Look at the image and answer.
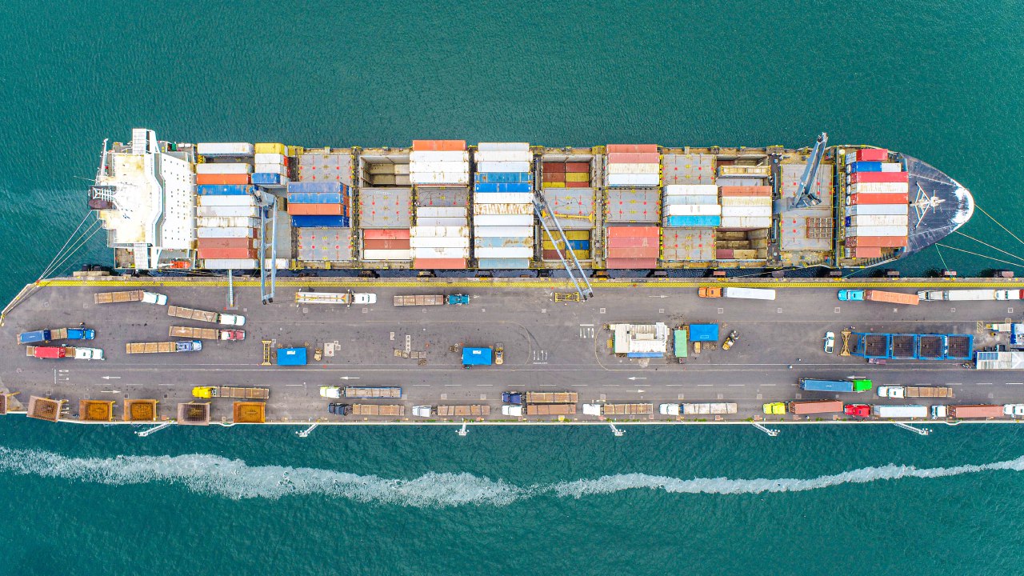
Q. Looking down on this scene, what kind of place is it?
port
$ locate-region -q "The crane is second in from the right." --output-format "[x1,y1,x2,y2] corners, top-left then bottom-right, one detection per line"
[529,188,592,302]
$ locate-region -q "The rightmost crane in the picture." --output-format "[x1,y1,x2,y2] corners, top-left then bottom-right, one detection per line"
[772,129,826,216]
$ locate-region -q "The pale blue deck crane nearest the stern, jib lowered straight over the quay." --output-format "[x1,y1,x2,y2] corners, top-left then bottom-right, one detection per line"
[258,190,288,306]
